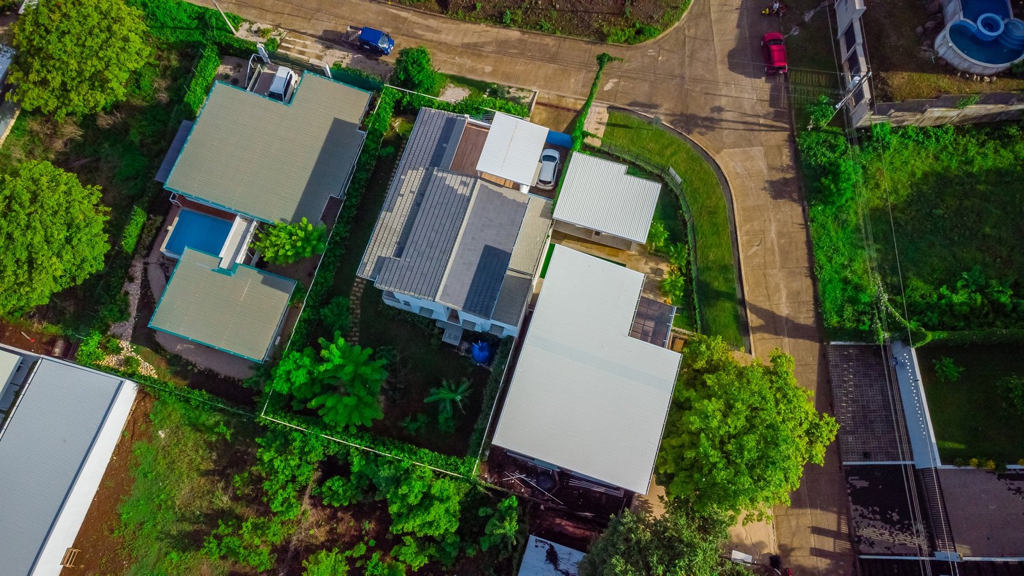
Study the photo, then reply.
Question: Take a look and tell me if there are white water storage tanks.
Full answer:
No, no white water storage tank is visible in the scene.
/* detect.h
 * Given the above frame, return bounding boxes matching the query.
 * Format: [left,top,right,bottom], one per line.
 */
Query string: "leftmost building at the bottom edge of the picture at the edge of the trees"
[0,351,148,576]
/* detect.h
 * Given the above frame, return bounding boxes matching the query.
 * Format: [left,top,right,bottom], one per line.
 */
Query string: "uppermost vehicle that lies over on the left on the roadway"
[339,21,396,57]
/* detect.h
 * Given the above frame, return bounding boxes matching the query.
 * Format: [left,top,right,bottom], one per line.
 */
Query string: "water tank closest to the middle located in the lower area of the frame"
[469,339,493,364]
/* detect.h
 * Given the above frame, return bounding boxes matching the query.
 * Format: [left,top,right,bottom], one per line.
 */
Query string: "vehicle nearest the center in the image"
[536,146,561,191]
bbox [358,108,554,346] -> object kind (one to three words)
house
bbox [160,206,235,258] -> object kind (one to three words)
swimming pool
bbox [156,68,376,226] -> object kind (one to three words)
house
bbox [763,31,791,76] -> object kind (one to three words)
car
